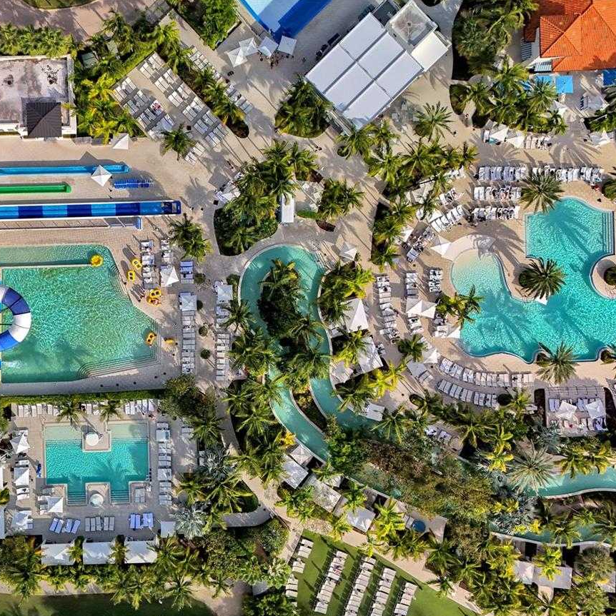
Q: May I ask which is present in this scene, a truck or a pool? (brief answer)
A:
pool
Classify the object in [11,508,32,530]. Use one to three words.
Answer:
umbrella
